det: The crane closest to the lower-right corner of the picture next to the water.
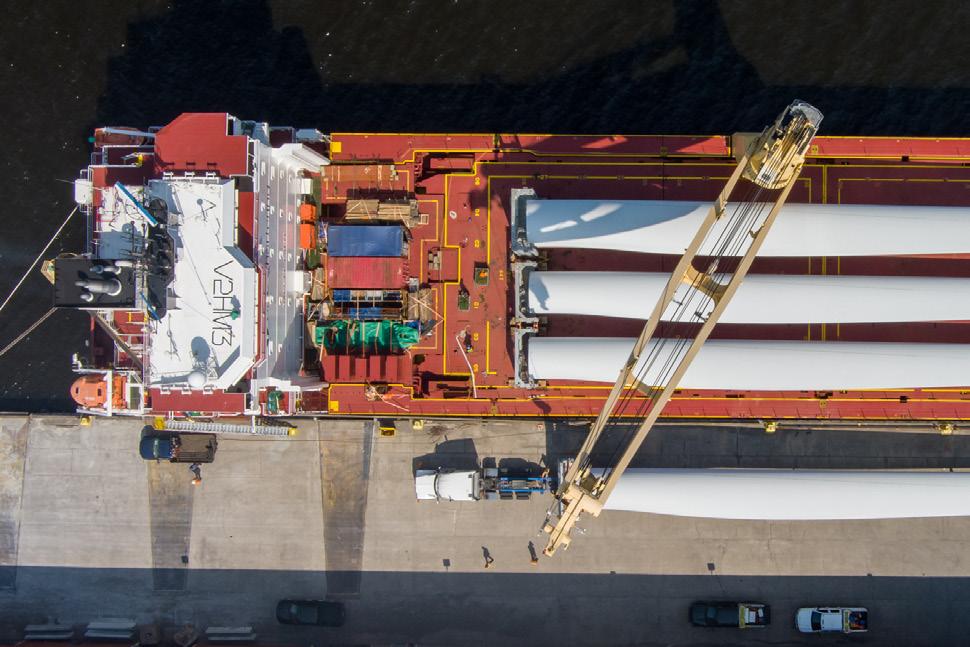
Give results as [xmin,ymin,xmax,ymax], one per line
[543,109,830,556]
